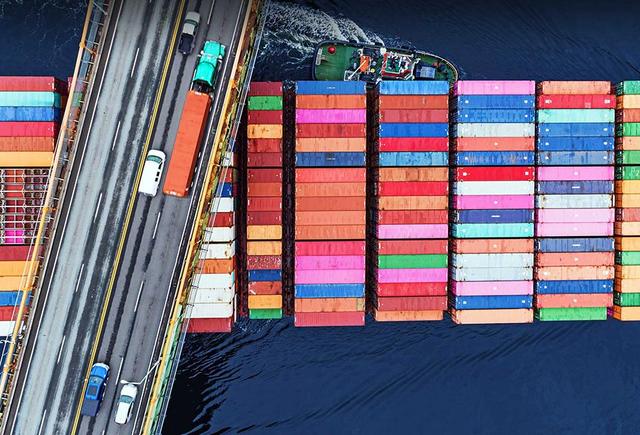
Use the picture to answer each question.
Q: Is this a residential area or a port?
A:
port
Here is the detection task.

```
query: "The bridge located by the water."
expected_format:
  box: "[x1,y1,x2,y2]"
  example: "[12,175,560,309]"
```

[0,0,271,435]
